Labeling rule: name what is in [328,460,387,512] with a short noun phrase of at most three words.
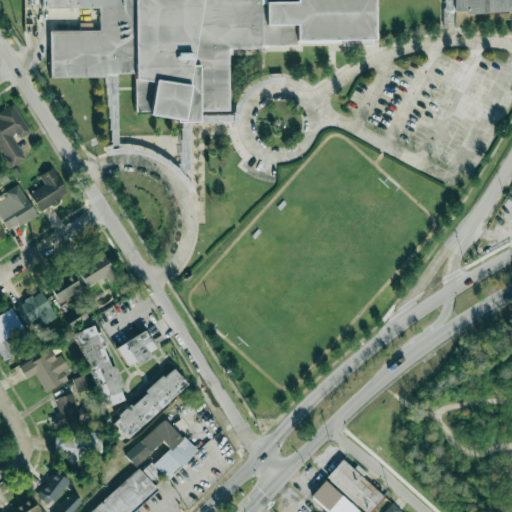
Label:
building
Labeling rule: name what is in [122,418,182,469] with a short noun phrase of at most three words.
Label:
building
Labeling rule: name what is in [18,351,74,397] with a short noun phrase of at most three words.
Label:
house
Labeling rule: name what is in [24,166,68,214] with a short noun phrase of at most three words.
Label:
house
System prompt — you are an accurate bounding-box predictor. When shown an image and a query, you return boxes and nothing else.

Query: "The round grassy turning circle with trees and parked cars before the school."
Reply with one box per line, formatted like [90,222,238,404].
[237,82,322,168]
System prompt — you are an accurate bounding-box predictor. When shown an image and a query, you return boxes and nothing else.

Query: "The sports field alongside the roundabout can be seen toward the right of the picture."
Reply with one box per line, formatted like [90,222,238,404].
[189,134,436,393]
